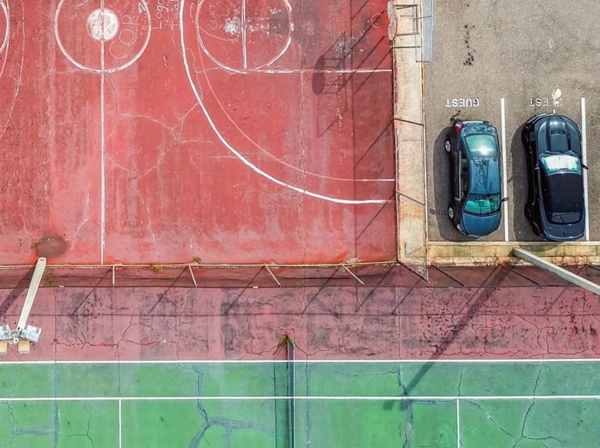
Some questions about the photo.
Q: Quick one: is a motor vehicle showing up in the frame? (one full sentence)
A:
Yes, a motor vehicle can be made out from above.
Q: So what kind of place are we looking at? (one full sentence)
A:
It's a sports ground.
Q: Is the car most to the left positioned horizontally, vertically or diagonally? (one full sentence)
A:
What the image shows is the car most to the left lying vertically.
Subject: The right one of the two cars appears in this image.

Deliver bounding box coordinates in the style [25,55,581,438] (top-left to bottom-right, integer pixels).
[521,113,591,242]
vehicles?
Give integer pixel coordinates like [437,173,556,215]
[521,113,591,242]
[443,116,511,237]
